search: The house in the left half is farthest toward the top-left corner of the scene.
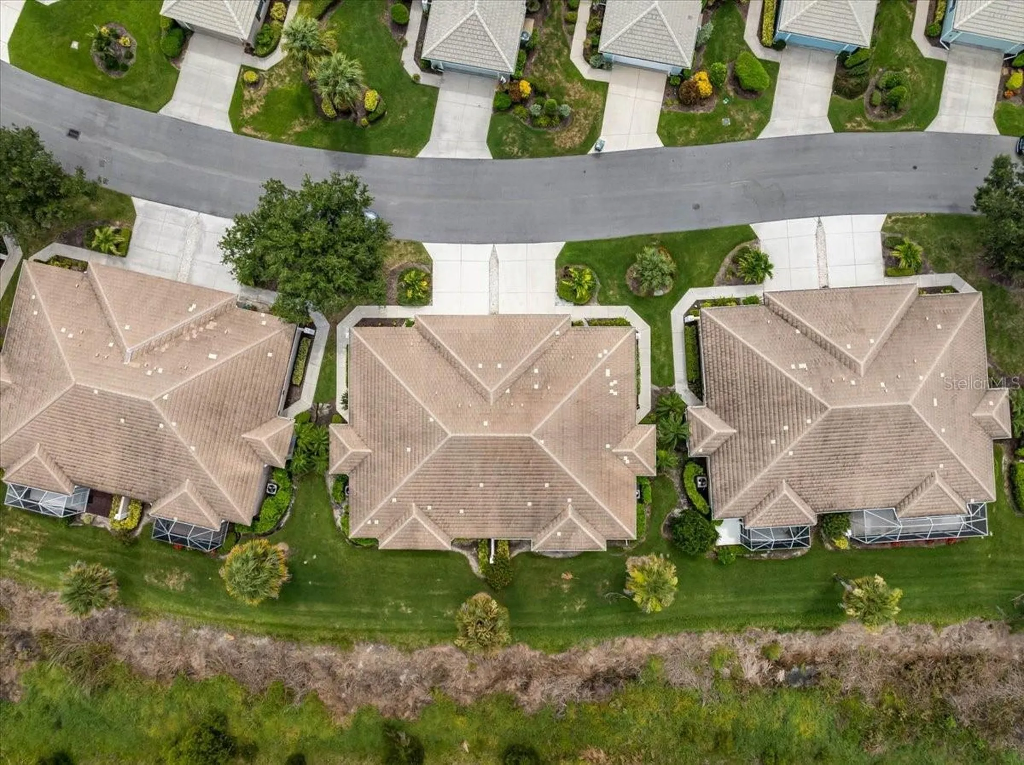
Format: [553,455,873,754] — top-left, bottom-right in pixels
[157,0,269,48]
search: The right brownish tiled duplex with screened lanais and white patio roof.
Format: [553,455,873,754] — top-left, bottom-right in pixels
[683,281,1015,530]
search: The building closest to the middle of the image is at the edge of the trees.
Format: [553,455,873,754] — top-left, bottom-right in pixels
[328,313,657,551]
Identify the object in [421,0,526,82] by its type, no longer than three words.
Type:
house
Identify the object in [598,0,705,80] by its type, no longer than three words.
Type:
house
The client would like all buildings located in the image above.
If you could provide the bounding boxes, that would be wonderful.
[0,255,302,533]
[773,0,879,54]
[937,0,1024,58]
[328,313,657,551]
[598,0,705,80]
[421,0,526,82]
[683,281,1015,530]
[157,0,269,48]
